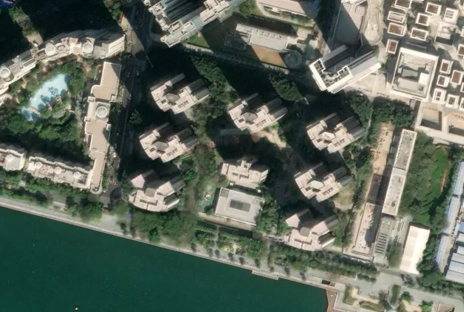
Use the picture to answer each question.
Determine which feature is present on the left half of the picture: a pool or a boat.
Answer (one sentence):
It is a pool that can be seen on the left half of the picture.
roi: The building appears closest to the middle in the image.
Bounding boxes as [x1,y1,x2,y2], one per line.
[221,156,272,189]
